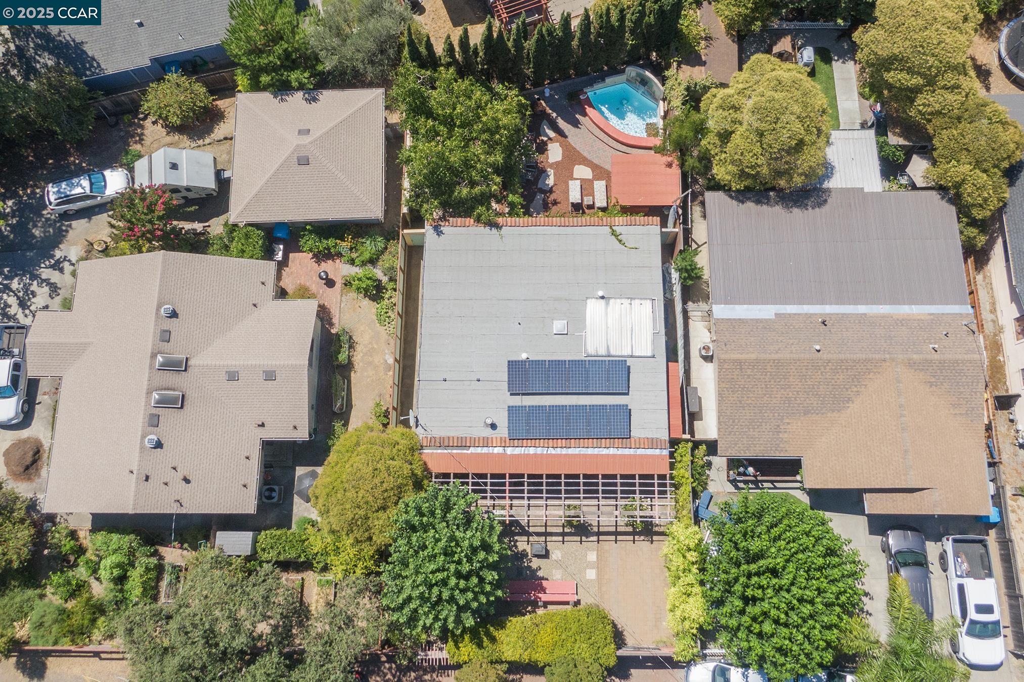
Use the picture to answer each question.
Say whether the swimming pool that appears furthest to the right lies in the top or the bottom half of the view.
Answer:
top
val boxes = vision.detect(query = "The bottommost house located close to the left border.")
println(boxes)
[25,251,324,515]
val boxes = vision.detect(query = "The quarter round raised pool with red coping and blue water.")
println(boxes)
[570,63,667,154]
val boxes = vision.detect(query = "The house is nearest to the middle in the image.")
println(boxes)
[413,217,683,474]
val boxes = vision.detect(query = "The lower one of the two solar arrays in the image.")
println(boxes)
[507,405,631,438]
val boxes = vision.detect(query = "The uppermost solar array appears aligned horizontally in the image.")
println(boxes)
[507,360,629,393]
